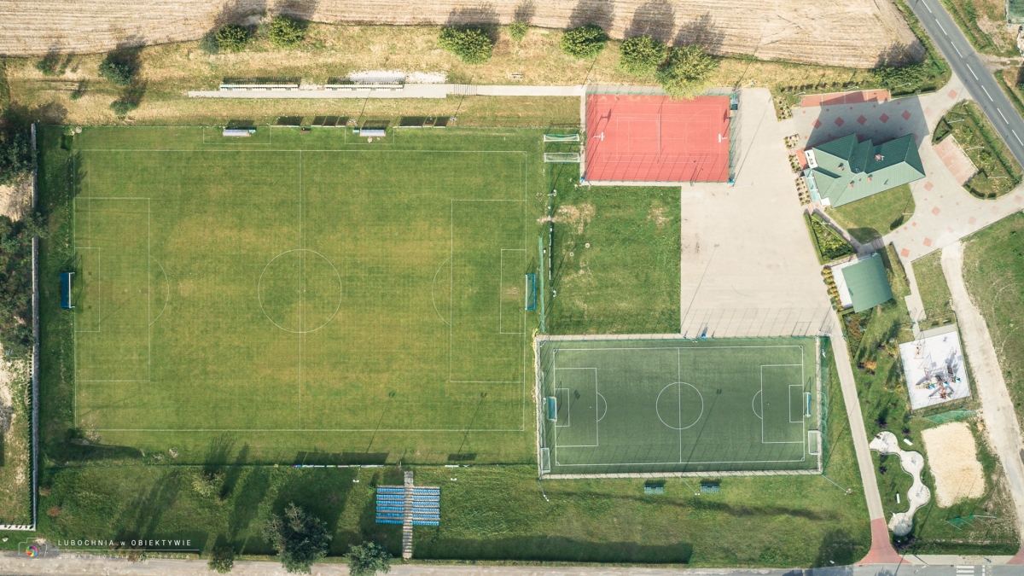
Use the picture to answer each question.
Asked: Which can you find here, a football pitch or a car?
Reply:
football pitch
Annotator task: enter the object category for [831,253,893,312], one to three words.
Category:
building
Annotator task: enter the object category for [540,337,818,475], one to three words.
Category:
soccer field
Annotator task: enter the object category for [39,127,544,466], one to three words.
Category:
soccer field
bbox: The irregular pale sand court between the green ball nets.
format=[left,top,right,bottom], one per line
[921,422,986,507]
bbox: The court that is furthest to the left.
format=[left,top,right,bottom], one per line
[585,95,729,182]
